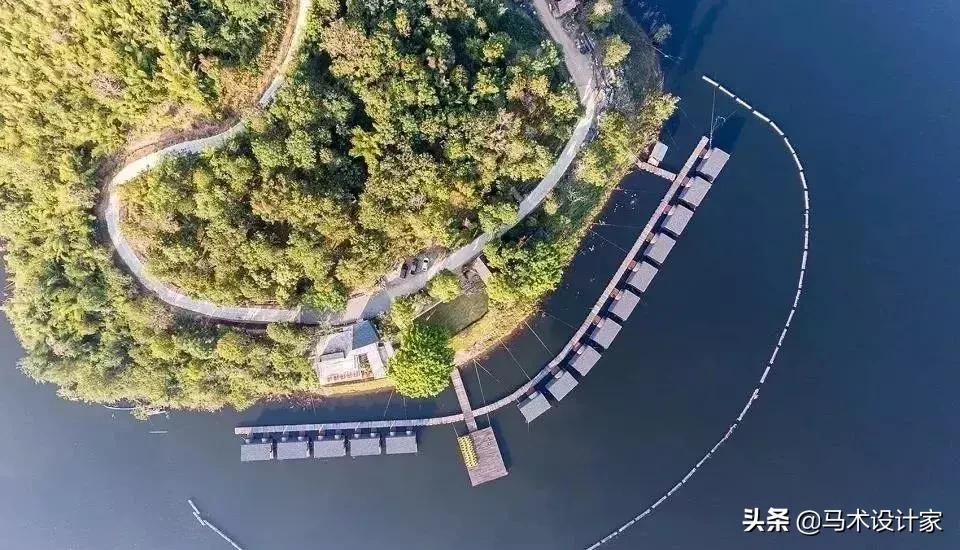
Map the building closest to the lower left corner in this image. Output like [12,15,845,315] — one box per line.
[241,437,276,461]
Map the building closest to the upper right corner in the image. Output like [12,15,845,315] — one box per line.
[693,148,728,183]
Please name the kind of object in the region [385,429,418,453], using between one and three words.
building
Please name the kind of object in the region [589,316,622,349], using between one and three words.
building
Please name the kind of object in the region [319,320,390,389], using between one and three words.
house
